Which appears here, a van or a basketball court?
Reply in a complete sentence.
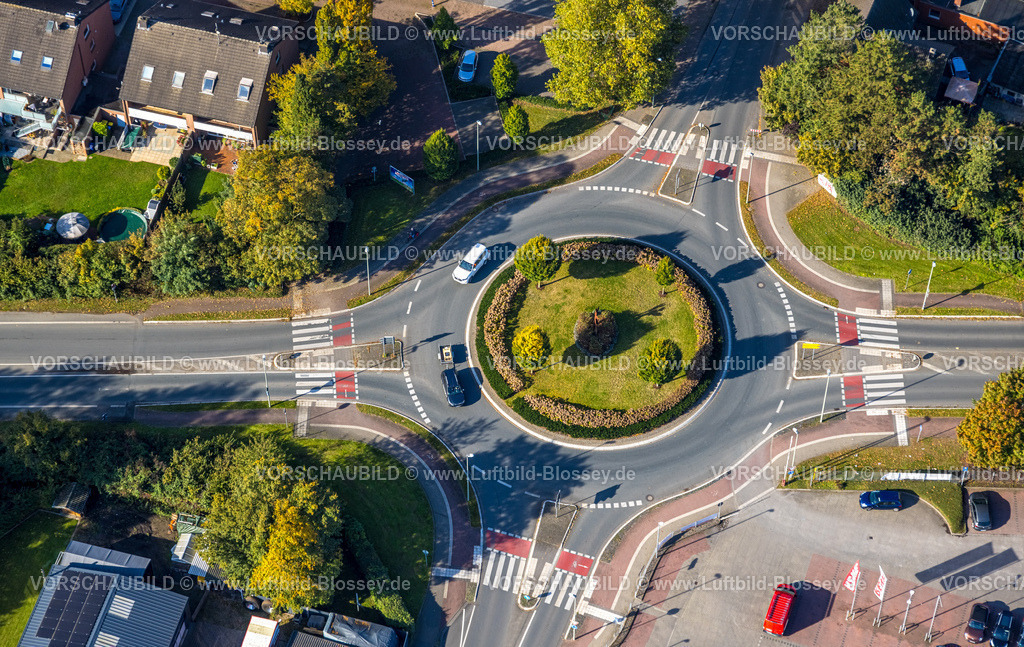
Of the two, only a van appears.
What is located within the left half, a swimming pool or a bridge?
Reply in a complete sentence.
The one visible within the left half is a swimming pool.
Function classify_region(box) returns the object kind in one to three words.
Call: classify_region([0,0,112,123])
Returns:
house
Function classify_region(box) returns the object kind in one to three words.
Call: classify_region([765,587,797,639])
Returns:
van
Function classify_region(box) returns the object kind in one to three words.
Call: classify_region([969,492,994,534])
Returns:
car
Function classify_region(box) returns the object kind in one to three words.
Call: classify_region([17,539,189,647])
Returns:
building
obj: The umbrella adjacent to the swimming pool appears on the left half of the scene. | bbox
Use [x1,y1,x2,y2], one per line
[52,211,86,238]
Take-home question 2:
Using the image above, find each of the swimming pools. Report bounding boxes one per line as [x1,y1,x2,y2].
[97,203,147,247]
